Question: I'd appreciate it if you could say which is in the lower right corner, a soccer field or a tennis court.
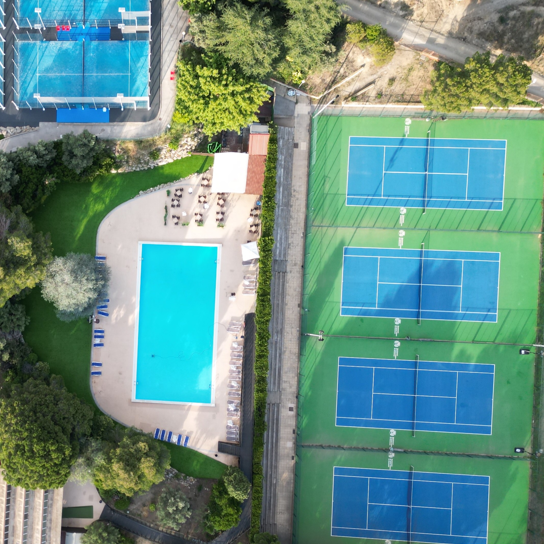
tennis court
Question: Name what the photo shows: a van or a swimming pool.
swimming pool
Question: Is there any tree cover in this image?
Yes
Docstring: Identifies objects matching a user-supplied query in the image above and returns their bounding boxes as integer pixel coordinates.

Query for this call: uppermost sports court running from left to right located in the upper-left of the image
[13,0,151,28]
